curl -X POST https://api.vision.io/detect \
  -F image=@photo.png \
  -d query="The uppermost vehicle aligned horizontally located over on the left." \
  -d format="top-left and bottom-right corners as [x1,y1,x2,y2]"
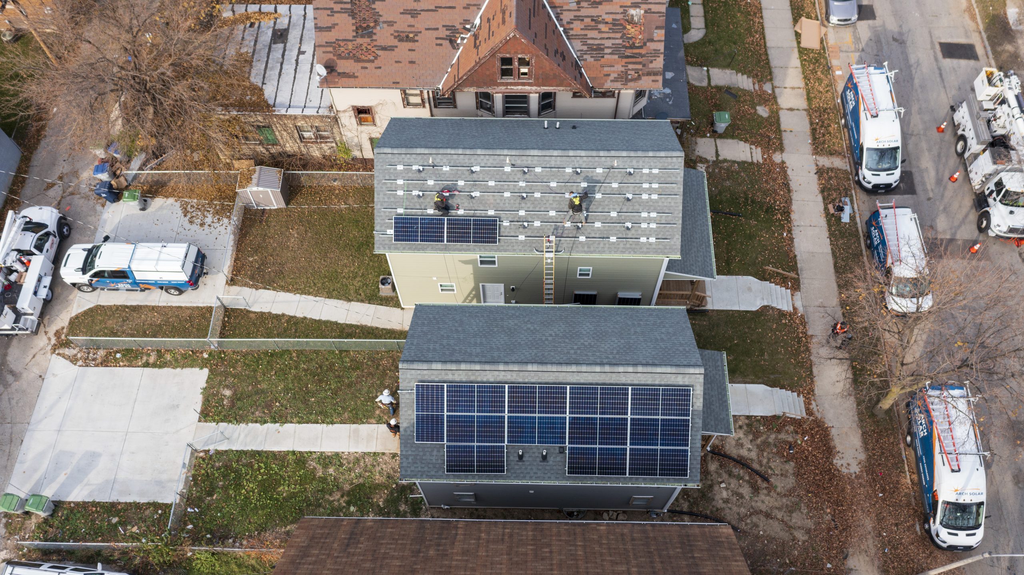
[55,233,205,293]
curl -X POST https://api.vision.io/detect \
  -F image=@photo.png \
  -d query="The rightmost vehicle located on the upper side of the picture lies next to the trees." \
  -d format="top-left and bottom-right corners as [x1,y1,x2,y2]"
[940,41,1024,248]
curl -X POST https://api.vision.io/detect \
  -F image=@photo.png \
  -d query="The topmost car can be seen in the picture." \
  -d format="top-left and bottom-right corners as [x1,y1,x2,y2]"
[825,0,861,21]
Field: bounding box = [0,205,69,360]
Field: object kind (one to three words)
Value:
truck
